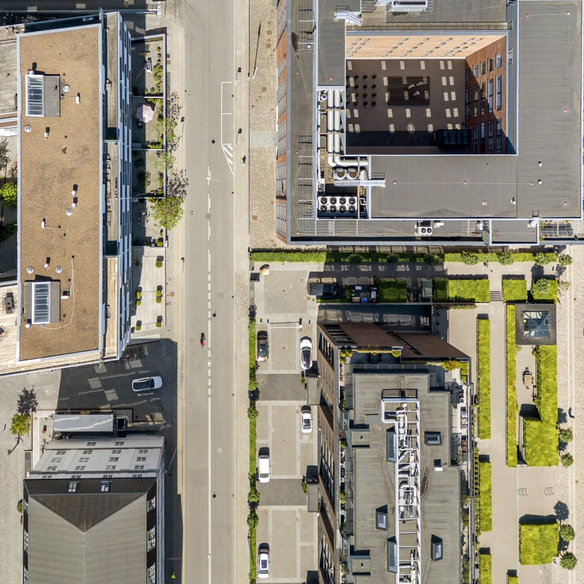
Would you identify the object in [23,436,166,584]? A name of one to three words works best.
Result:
warehouse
